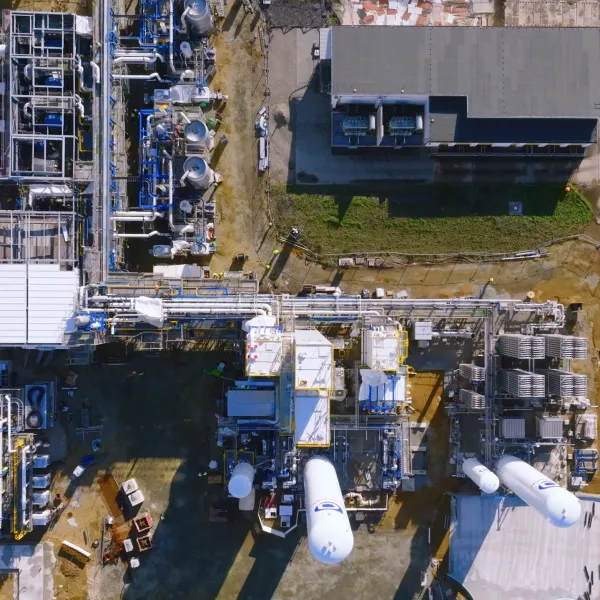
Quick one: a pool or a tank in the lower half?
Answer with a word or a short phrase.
tank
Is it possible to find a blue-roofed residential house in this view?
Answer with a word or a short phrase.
Yes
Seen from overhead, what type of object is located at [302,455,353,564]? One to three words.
storage tank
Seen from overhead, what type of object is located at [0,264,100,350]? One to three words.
building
